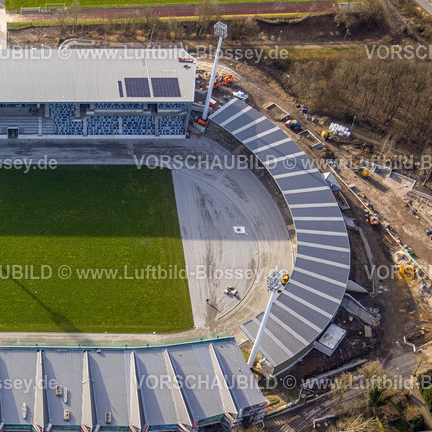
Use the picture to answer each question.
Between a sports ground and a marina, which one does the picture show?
sports ground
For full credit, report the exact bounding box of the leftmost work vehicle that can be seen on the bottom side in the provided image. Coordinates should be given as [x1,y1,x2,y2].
[222,284,242,299]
